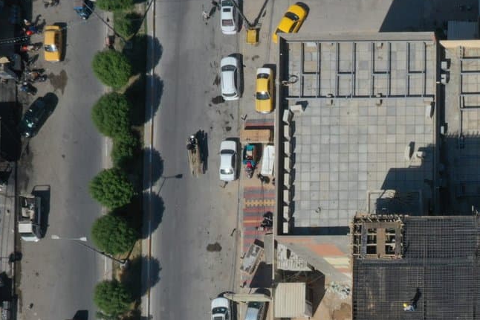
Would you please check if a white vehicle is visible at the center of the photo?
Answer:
Yes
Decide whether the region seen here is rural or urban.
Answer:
urban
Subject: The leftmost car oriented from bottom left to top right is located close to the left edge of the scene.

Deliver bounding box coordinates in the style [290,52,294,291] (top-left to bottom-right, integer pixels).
[19,97,56,141]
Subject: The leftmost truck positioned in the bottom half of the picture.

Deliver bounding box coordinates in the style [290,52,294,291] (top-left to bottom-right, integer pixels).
[17,191,43,239]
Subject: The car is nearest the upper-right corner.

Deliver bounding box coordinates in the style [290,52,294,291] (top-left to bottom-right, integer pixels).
[274,3,308,41]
